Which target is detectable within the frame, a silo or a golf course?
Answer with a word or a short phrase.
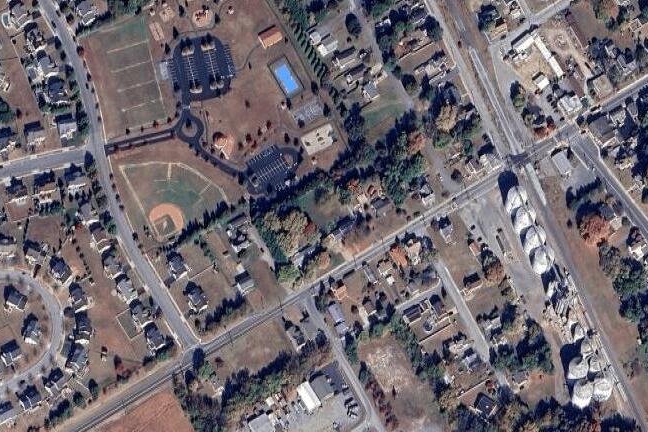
silo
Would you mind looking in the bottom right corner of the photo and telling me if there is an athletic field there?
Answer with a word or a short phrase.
No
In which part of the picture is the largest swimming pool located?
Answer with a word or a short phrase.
top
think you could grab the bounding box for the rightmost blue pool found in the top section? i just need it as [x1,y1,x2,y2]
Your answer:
[268,55,304,95]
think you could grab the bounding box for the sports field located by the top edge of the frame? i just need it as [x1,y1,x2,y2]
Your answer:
[83,15,169,138]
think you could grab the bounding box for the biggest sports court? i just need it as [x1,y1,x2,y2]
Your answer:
[302,123,339,155]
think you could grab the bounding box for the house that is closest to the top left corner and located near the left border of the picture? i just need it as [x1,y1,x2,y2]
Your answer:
[8,0,33,23]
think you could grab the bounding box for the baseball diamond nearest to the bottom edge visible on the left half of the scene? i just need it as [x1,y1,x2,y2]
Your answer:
[122,161,230,243]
